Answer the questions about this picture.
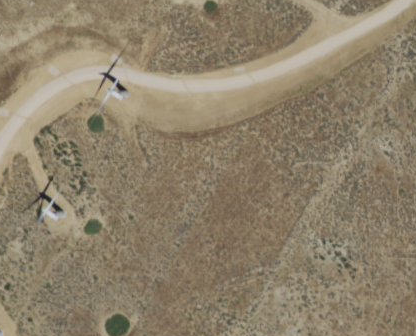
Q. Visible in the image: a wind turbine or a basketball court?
wind turbine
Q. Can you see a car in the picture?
No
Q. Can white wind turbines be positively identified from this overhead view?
Yes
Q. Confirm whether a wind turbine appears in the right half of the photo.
No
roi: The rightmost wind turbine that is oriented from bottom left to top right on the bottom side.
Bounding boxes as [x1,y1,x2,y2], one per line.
[26,178,66,234]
